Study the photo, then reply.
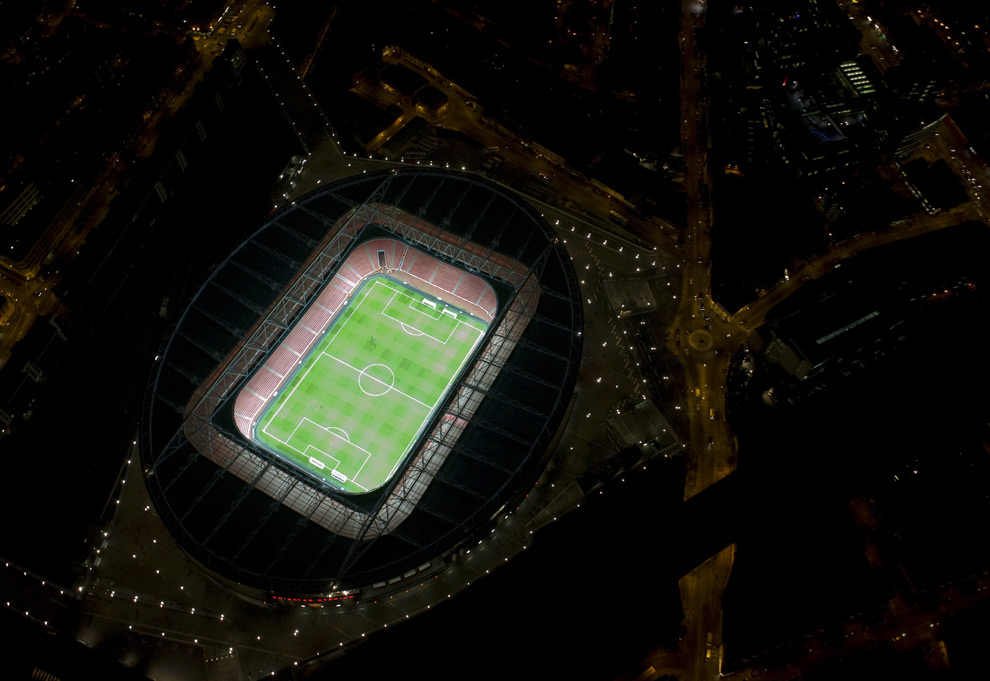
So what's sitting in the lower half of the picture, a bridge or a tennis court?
bridge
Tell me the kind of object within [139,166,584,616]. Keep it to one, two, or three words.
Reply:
stadium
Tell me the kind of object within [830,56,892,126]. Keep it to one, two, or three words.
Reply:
building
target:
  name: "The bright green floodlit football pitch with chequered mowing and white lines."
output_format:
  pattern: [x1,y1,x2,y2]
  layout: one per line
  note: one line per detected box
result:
[248,269,494,505]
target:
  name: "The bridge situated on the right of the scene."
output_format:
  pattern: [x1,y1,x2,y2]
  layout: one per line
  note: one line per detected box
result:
[680,468,737,579]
